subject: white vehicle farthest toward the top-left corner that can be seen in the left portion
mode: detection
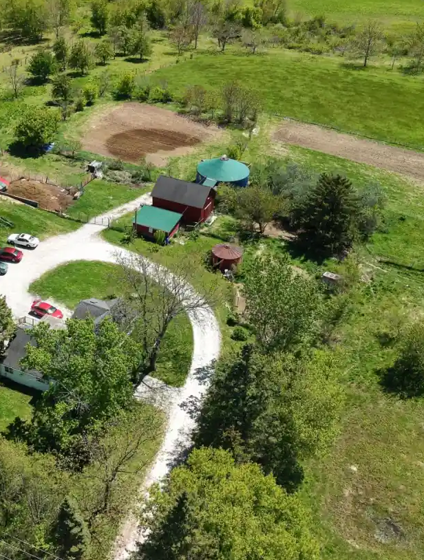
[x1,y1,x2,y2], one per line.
[8,234,39,249]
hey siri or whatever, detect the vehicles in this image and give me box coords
[8,234,39,249]
[0,262,10,275]
[27,299,60,316]
[0,248,24,263]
